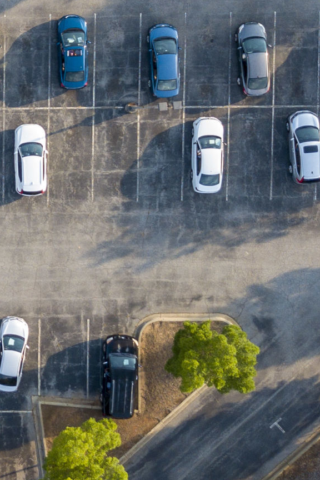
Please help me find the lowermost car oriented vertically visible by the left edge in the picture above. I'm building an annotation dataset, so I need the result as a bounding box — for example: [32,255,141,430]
[0,316,32,393]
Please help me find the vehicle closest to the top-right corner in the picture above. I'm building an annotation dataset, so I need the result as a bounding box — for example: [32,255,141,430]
[235,22,275,96]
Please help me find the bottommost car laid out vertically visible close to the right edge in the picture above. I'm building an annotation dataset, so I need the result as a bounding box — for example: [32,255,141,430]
[287,110,320,184]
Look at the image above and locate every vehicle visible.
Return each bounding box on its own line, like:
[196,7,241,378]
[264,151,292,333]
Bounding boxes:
[0,316,32,393]
[54,14,93,89]
[13,124,51,196]
[102,333,142,420]
[235,22,275,96]
[287,110,320,184]
[146,23,184,98]
[189,116,230,194]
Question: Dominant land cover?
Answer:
paved ground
